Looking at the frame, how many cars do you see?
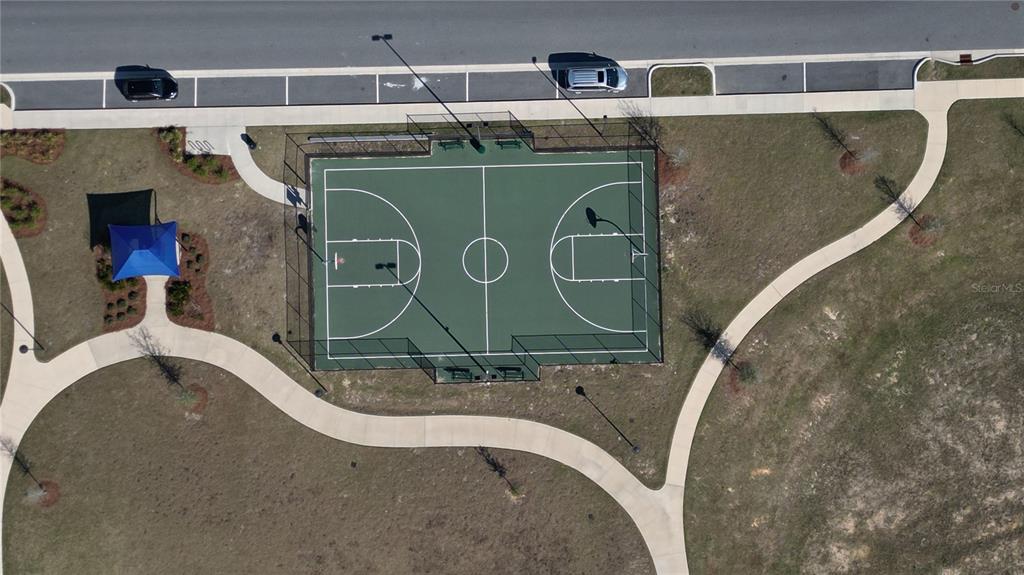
2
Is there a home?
No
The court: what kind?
basketball court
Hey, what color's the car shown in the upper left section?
black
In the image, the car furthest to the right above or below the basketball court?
above it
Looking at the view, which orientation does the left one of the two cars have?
horizontally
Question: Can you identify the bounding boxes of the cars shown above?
[121,74,179,103]
[564,63,629,93]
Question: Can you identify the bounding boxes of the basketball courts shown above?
[312,137,660,382]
